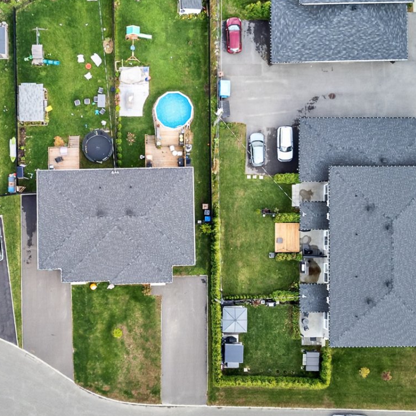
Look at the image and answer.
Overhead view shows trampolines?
Yes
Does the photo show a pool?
Yes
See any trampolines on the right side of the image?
No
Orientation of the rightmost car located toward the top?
vertically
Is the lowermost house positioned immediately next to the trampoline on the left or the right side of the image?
left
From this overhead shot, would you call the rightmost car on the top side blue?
No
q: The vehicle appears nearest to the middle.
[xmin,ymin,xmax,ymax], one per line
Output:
[249,131,267,167]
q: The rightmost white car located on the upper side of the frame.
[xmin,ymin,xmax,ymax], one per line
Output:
[275,124,296,163]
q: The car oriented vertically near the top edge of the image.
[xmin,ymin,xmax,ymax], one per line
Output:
[224,17,242,54]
